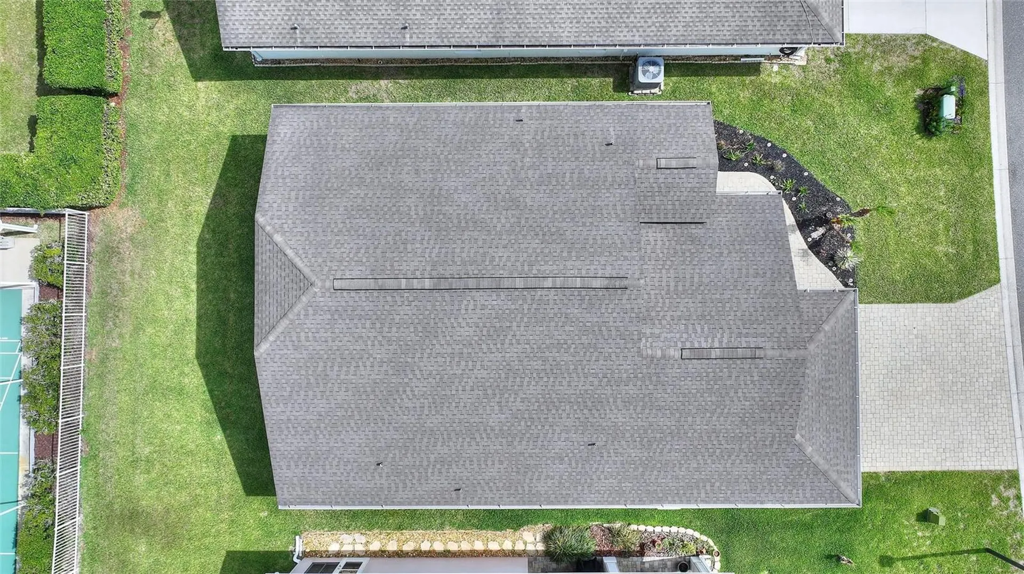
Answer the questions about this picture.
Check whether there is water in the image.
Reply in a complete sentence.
No, water can't be seen anywhere here.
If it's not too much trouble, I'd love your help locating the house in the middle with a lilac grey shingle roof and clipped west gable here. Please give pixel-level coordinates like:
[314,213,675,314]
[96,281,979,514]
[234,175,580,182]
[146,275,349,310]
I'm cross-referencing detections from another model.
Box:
[252,99,864,513]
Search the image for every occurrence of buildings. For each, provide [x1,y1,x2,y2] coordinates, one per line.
[252,99,864,513]
[215,0,844,64]
[266,535,734,574]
